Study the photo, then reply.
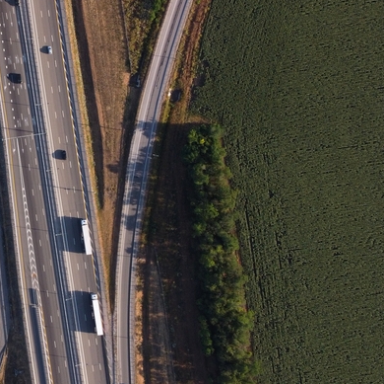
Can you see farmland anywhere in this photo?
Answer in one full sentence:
Yes, the picture does contain farmland.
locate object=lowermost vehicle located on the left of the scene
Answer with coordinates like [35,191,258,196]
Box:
[91,293,104,335]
